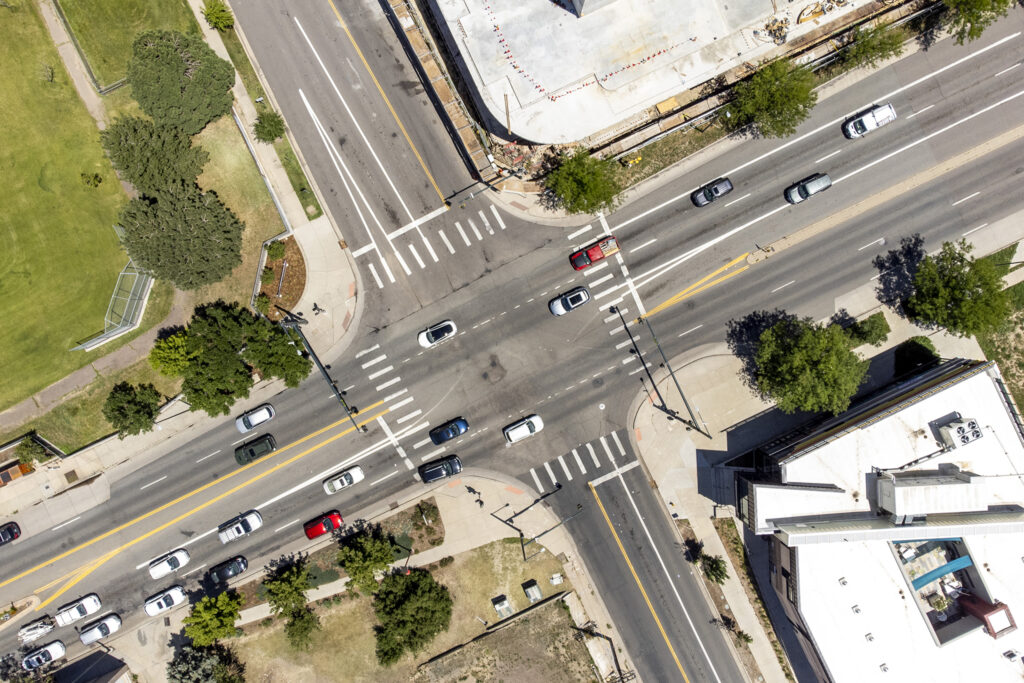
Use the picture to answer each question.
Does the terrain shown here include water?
No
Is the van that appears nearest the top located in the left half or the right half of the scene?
right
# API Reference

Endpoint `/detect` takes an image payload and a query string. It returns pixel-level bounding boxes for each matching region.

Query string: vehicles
[550,286,591,315]
[53,593,104,627]
[428,418,470,446]
[144,584,187,615]
[323,466,366,495]
[79,612,123,643]
[208,555,250,584]
[842,102,896,139]
[236,433,278,462]
[0,520,20,542]
[690,178,733,207]
[236,402,278,431]
[785,172,831,203]
[503,413,543,443]
[304,510,344,539]
[569,235,622,269]
[23,640,68,671]
[419,456,463,481]
[418,319,459,347]
[148,549,191,578]
[218,510,263,541]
